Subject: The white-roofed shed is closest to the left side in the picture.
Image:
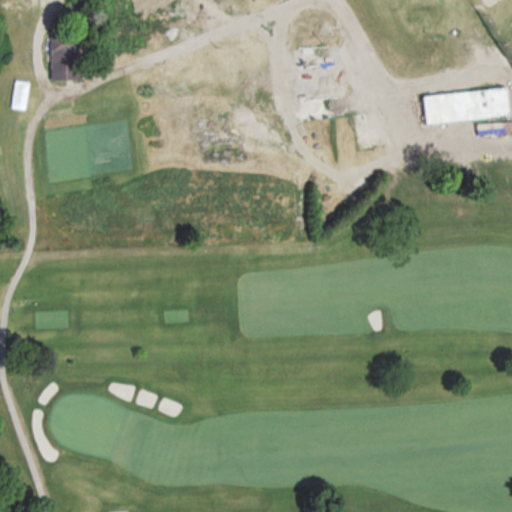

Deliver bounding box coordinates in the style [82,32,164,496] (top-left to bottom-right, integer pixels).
[11,79,30,111]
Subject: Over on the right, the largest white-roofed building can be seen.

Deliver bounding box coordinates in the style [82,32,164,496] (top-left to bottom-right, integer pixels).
[424,88,510,125]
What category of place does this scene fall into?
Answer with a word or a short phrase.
golf course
